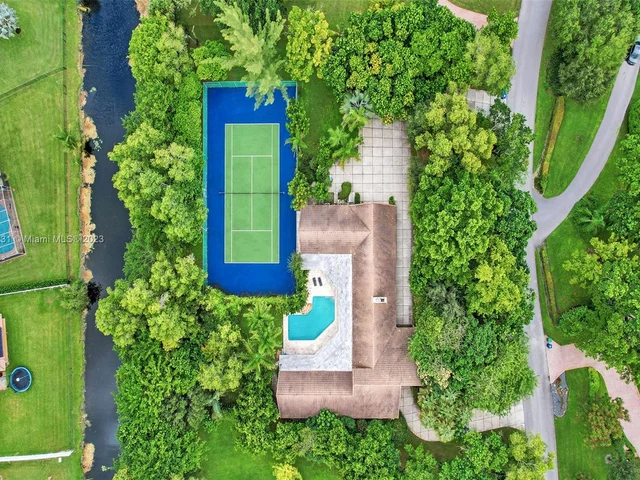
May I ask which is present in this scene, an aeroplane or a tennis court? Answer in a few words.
tennis court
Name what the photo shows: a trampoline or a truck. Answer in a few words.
trampoline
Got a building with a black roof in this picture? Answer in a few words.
No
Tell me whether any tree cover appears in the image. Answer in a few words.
Yes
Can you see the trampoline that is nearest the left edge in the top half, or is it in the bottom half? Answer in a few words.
bottom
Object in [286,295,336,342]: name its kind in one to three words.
swimming pool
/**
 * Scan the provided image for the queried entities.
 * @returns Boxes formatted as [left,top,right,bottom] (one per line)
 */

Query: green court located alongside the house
[208,88,296,296]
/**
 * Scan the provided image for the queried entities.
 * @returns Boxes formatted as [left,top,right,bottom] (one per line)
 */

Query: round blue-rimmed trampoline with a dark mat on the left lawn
[5,366,33,395]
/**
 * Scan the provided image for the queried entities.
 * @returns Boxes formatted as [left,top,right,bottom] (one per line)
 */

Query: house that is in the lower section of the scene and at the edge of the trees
[276,202,421,419]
